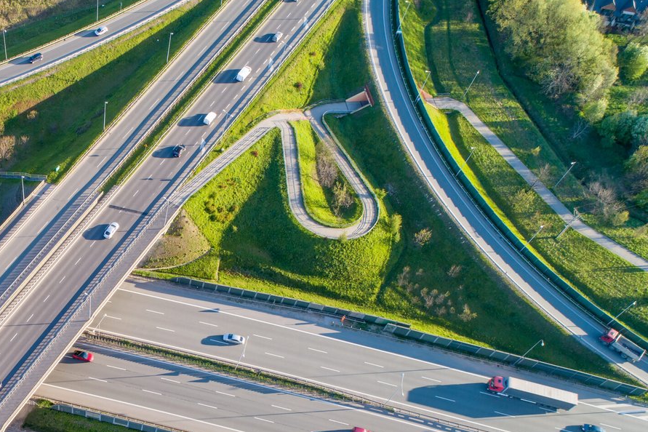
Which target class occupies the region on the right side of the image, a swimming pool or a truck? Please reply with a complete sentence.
Visible on the right side of the image is a truck.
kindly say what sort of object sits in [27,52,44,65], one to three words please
vehicle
